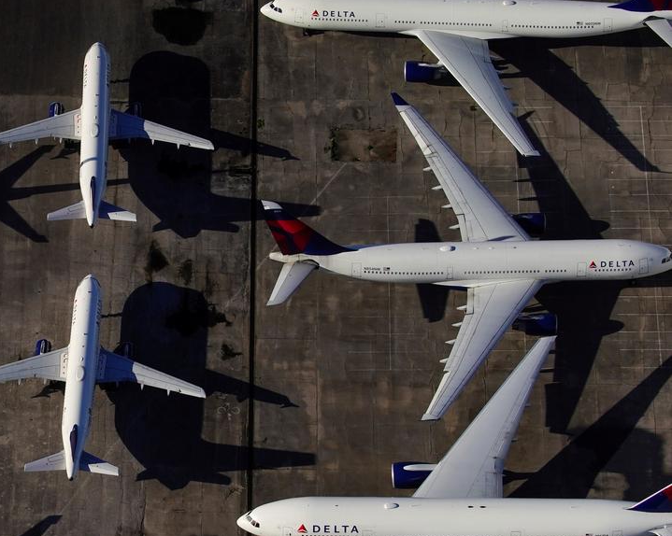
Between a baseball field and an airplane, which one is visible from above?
airplane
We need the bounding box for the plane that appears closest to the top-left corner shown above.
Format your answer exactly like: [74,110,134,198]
[0,44,211,226]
